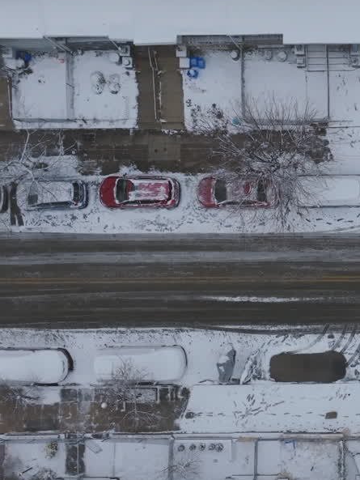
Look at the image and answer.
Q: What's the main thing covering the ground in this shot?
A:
paved ground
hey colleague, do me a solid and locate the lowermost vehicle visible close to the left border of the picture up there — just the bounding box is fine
[0,349,77,387]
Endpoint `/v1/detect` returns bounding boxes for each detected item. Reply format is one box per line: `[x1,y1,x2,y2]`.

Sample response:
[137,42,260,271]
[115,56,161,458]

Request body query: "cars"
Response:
[198,175,276,212]
[0,181,13,214]
[19,176,91,213]
[101,174,183,212]
[291,173,360,211]
[92,347,191,385]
